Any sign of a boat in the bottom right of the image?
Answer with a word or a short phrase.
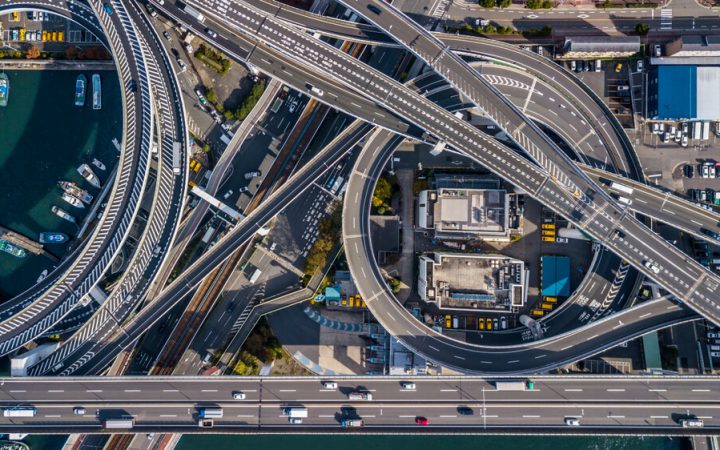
No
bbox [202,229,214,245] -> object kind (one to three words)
vehicle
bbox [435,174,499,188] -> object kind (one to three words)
building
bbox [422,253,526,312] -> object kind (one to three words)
building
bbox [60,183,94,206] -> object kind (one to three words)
boat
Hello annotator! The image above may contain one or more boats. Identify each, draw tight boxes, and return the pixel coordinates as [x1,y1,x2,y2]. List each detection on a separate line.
[0,72,8,106]
[61,191,84,207]
[77,162,98,186]
[35,269,49,282]
[39,232,69,243]
[92,74,102,109]
[60,183,94,206]
[0,439,32,450]
[51,205,75,221]
[76,75,86,106]
[0,237,28,255]
[92,158,105,169]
